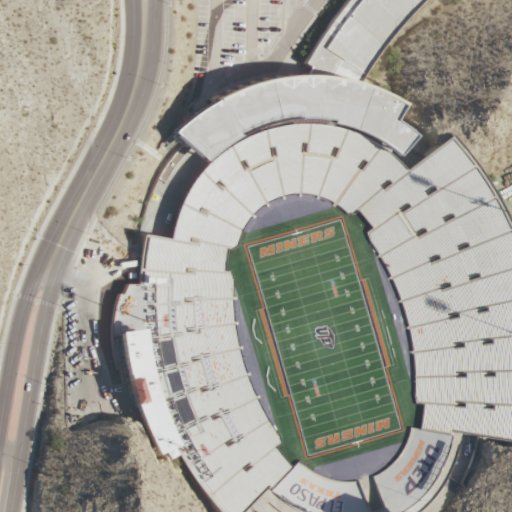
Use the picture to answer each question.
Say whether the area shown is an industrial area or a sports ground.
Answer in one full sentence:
This image shows a sports ground.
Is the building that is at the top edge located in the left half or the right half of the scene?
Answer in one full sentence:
It is on the right.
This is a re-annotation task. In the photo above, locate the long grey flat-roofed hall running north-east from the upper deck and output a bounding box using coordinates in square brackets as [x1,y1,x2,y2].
[308,0,426,80]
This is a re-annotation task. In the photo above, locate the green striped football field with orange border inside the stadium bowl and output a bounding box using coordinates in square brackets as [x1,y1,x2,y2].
[226,206,425,469]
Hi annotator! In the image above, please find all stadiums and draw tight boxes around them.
[113,74,512,512]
